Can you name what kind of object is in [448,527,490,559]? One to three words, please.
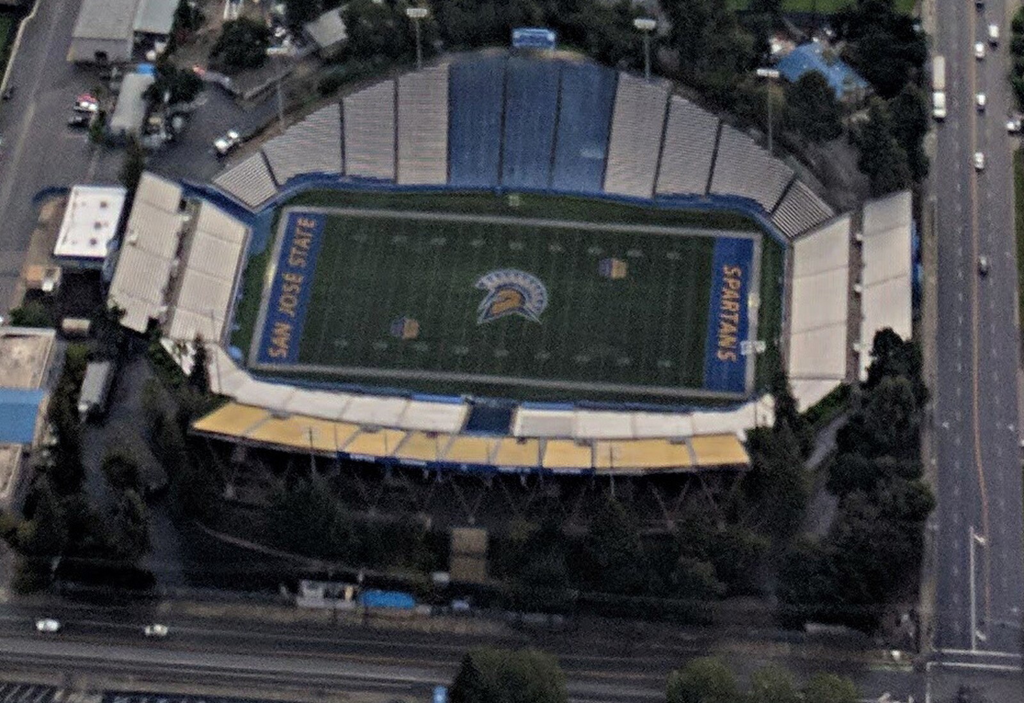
building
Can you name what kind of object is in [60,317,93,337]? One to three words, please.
shed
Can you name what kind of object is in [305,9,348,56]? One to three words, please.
shed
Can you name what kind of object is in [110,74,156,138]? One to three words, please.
building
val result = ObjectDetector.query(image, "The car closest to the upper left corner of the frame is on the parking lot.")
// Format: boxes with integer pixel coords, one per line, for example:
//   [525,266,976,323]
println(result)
[1,87,15,101]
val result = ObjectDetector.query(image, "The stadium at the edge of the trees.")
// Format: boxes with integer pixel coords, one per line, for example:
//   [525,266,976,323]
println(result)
[107,55,914,514]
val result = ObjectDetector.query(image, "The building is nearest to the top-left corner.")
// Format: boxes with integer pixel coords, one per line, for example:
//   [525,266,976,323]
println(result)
[67,0,140,63]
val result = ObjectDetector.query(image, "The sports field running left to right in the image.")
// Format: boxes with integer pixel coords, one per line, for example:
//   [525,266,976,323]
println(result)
[230,189,782,407]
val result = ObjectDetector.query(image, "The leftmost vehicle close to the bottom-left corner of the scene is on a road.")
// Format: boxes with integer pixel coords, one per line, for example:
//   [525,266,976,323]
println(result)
[35,619,59,631]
